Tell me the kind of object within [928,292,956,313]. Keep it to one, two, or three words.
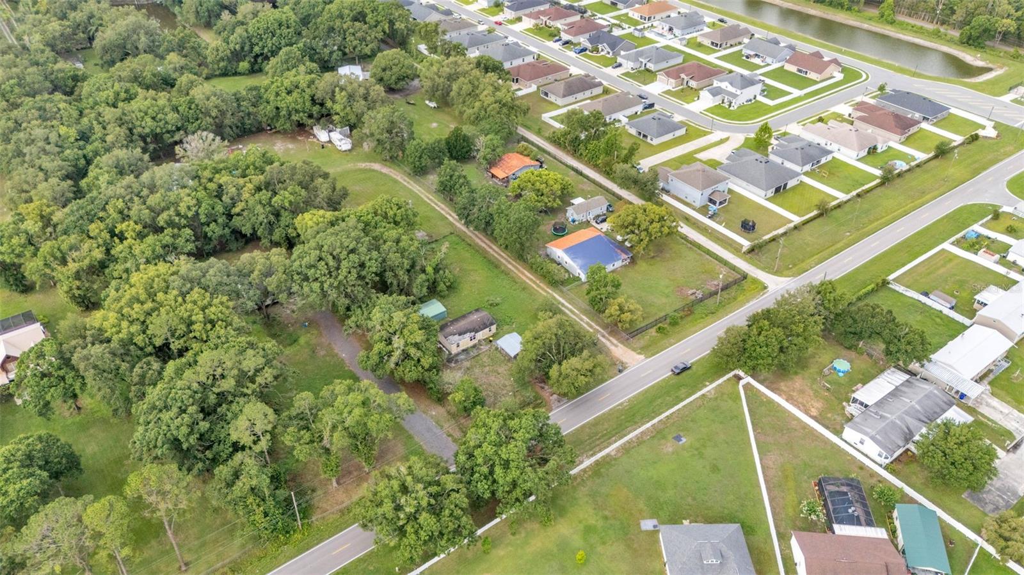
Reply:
shed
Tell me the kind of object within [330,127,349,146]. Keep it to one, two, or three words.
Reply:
camper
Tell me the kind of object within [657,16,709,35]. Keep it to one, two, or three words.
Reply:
house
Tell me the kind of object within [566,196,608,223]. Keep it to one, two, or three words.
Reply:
house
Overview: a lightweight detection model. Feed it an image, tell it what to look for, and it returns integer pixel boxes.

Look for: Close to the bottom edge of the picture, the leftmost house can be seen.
[659,523,756,575]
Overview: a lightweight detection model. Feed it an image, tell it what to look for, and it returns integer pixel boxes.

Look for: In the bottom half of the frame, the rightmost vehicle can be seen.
[670,358,692,373]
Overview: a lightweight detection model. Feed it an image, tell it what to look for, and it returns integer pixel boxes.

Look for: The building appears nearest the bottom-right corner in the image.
[893,504,957,575]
